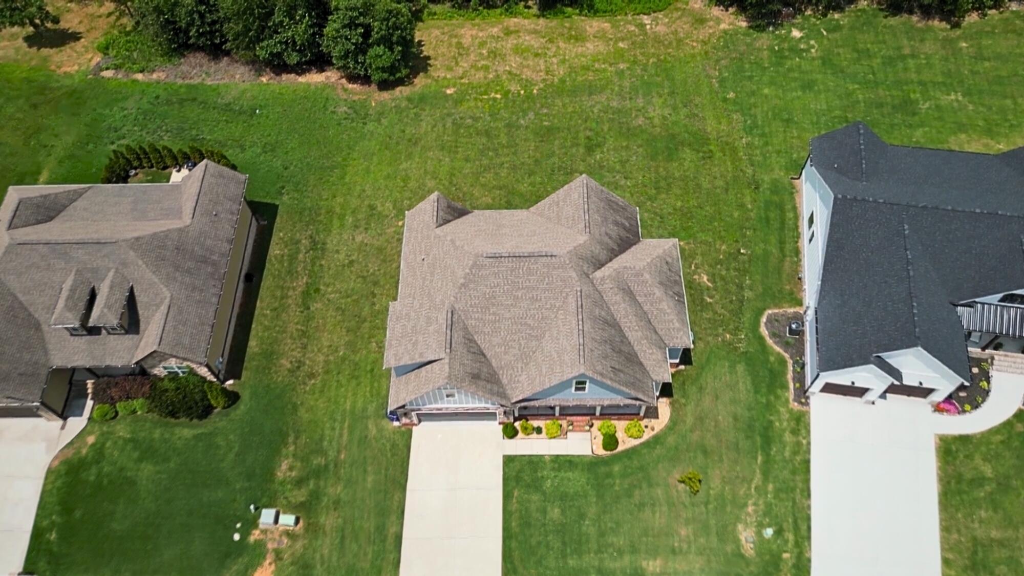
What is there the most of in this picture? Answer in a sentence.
Most of the picture is covered by grass.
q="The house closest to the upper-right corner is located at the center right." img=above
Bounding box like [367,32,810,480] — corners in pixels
[790,122,1024,405]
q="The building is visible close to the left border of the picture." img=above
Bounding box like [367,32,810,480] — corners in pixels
[0,158,271,421]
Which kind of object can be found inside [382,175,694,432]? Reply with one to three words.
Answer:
house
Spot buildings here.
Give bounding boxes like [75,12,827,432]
[382,175,694,432]
[790,122,1024,405]
[0,158,271,421]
